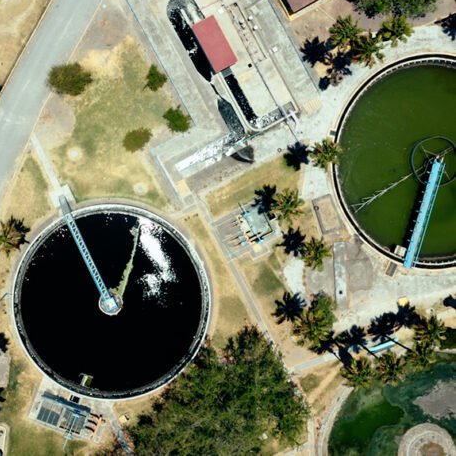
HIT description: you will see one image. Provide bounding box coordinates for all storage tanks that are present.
[12,203,211,402]
[331,53,456,270]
